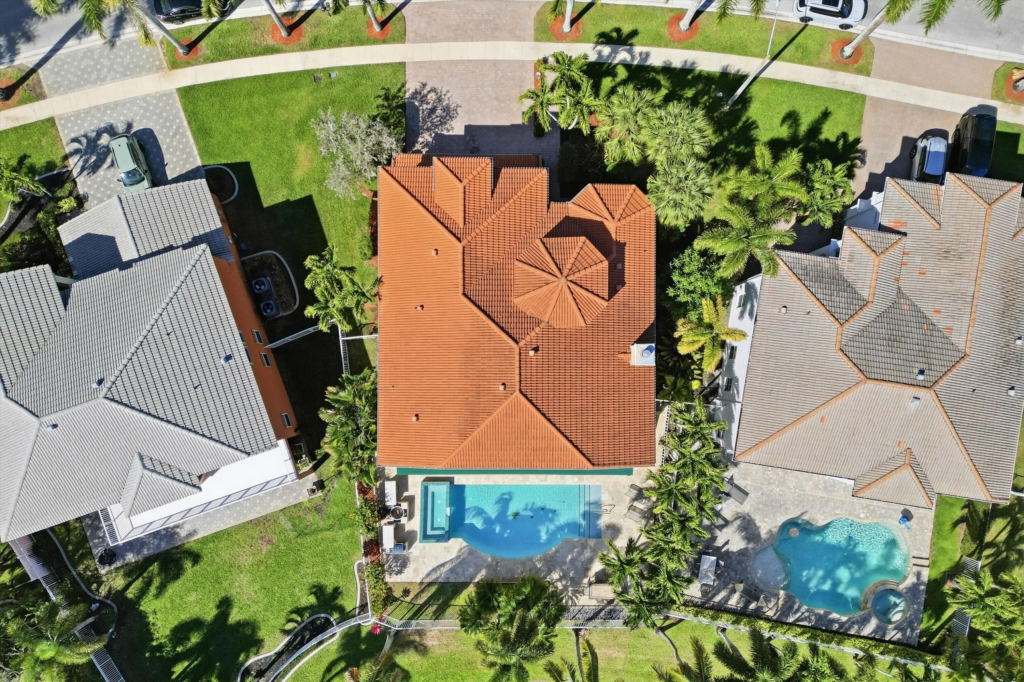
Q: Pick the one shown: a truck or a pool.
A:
pool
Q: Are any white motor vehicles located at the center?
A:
No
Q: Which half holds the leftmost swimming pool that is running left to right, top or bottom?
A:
bottom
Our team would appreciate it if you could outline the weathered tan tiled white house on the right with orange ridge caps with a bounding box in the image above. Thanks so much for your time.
[706,171,1024,510]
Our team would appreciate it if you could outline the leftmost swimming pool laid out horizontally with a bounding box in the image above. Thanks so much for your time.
[451,485,614,558]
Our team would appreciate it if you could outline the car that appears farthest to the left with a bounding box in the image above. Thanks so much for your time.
[106,125,160,199]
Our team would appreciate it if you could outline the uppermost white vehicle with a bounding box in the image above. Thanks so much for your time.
[791,0,863,29]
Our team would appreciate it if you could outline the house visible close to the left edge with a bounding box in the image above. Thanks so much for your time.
[0,178,316,548]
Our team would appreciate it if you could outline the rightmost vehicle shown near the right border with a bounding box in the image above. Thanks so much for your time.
[946,104,999,178]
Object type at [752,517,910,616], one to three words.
swimming pool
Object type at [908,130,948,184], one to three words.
car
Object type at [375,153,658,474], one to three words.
house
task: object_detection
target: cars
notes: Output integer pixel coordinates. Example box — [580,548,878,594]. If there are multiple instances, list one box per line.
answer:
[106,125,160,199]
[908,130,948,184]
[791,0,863,29]
[160,0,238,26]
[946,104,999,178]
